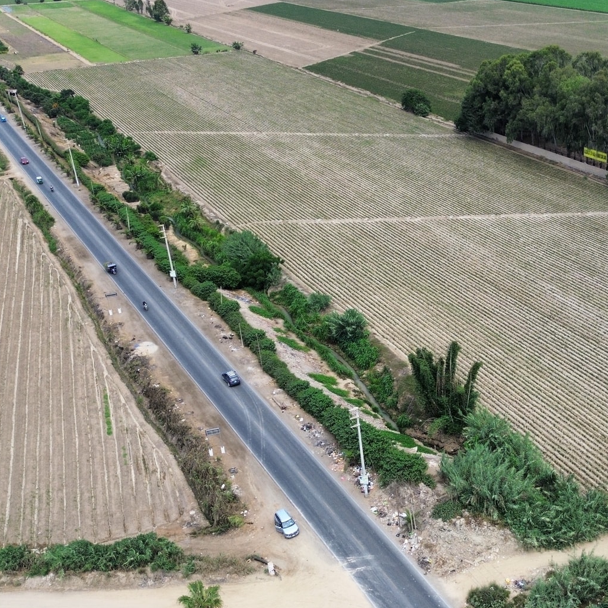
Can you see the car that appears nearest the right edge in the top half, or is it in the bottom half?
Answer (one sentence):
The bottom half of the photo is where the car that appears nearest the right edge is.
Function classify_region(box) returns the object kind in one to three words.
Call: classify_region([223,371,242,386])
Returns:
car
